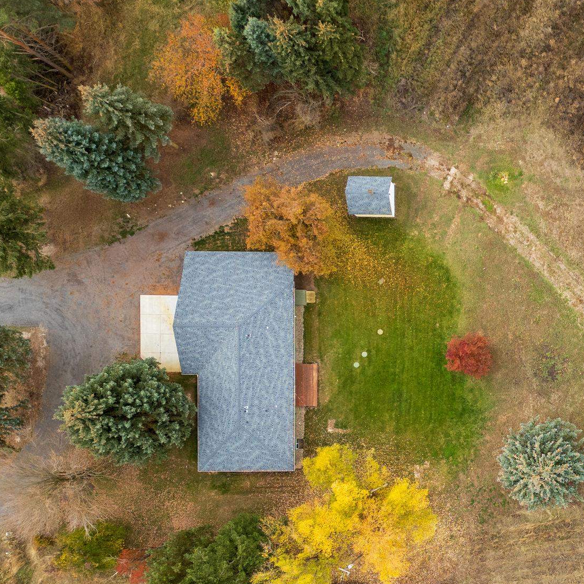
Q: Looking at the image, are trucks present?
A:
No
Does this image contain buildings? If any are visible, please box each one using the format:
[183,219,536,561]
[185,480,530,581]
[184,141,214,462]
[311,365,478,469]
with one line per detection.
[346,177,396,217]
[173,251,296,473]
